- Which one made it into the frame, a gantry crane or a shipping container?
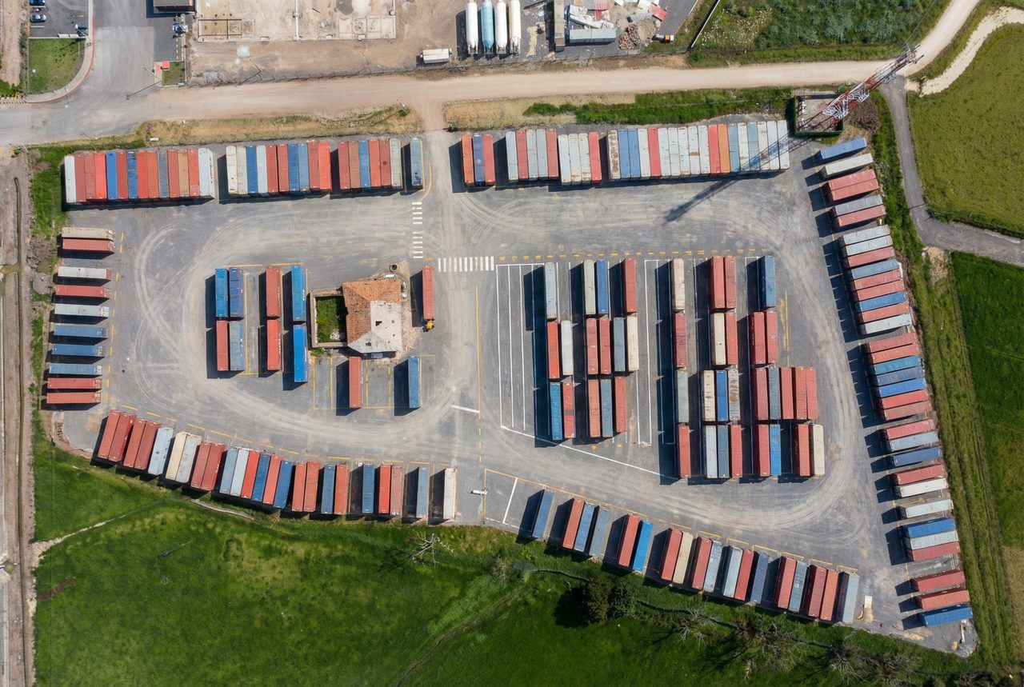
shipping container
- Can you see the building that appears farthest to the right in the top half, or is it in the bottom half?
top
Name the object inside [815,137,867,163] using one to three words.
shipping container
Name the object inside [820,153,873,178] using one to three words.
shipping container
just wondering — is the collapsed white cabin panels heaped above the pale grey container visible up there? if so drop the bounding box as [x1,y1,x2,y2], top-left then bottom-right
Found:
[568,4,615,29]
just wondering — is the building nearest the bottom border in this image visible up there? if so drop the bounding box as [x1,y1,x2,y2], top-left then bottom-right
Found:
[344,279,403,353]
